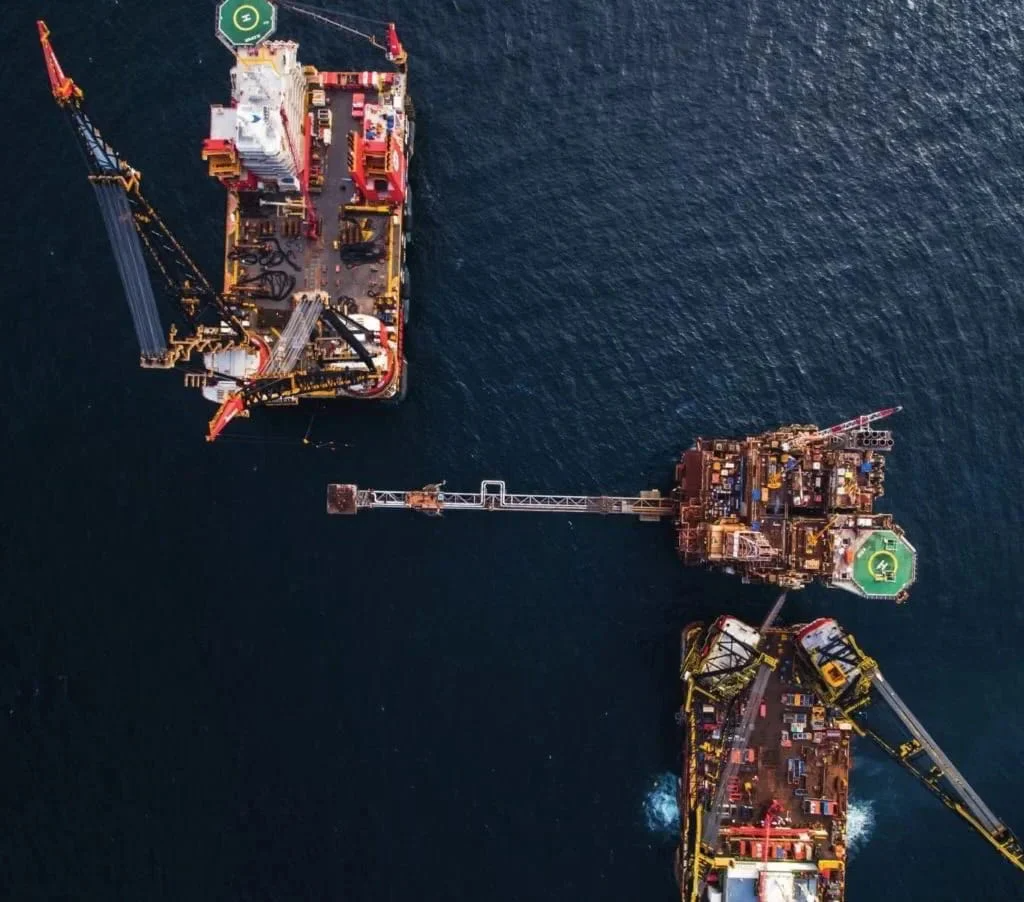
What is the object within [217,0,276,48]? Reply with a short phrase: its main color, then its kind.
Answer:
green helipad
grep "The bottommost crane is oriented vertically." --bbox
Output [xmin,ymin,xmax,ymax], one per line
[760,795,780,902]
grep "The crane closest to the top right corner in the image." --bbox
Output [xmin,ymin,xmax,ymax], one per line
[781,407,903,450]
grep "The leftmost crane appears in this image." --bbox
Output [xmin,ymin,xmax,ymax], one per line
[38,23,281,401]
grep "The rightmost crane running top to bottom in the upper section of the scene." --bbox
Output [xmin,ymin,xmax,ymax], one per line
[282,109,319,242]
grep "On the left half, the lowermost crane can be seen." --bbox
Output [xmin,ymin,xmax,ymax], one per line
[206,292,398,442]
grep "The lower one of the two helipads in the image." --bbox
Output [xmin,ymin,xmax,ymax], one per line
[851,524,917,602]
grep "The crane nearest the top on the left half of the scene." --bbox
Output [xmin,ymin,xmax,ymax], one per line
[274,0,409,79]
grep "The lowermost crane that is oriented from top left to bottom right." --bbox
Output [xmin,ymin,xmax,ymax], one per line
[790,614,1024,878]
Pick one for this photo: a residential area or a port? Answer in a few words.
port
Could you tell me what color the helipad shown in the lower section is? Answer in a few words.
green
